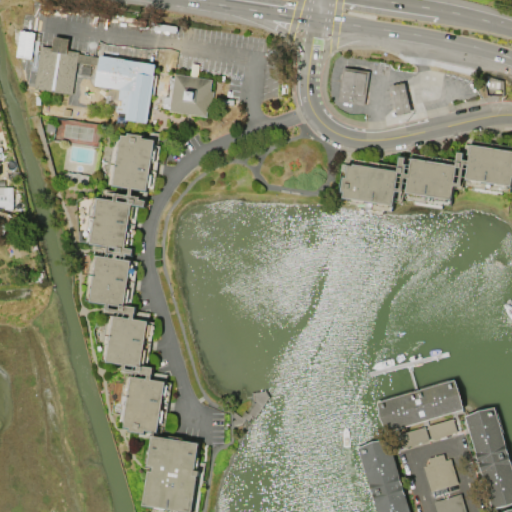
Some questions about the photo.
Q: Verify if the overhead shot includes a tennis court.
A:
Yes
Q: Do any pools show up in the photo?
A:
Yes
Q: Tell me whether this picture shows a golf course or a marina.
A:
marina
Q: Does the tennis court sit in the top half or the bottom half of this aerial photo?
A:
top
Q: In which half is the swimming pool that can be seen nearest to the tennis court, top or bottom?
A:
top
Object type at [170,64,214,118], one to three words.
house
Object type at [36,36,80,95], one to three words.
building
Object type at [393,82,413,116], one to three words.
building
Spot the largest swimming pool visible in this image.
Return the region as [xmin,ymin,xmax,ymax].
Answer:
[64,143,97,175]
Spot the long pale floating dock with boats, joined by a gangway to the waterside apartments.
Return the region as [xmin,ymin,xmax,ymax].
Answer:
[370,352,450,390]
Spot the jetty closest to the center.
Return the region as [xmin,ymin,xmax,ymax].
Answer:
[244,391,270,424]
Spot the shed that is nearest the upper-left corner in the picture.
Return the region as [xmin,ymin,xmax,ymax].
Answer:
[16,30,36,60]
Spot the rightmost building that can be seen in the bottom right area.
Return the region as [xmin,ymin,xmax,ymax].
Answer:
[464,406,512,509]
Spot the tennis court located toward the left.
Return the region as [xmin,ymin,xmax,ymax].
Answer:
[56,120,98,146]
